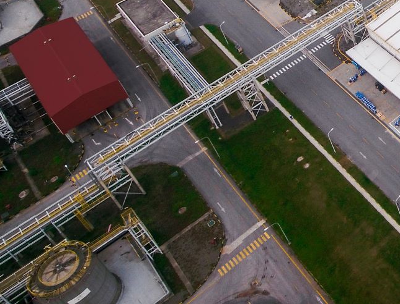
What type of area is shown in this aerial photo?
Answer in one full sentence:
It's an industrial area.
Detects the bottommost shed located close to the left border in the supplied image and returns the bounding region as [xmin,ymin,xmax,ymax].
[12,14,141,135]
